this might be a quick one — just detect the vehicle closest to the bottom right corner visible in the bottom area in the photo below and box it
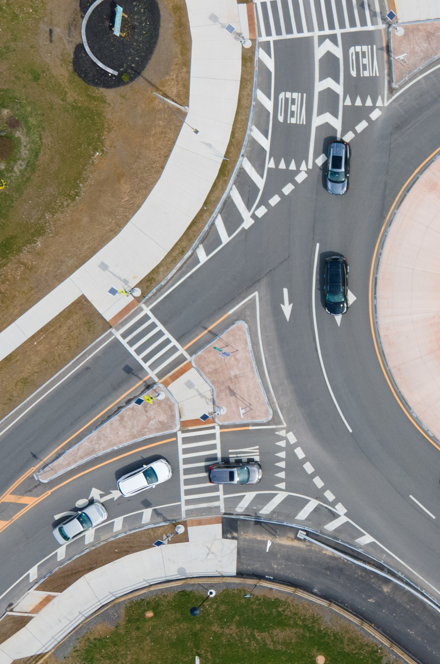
[206,459,264,488]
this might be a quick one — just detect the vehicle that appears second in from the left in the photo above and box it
[116,458,175,498]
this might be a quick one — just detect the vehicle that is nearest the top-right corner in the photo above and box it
[323,140,352,196]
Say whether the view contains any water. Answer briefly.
No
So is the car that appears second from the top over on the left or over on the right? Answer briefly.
right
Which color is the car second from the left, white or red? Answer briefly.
white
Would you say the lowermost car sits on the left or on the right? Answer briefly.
left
